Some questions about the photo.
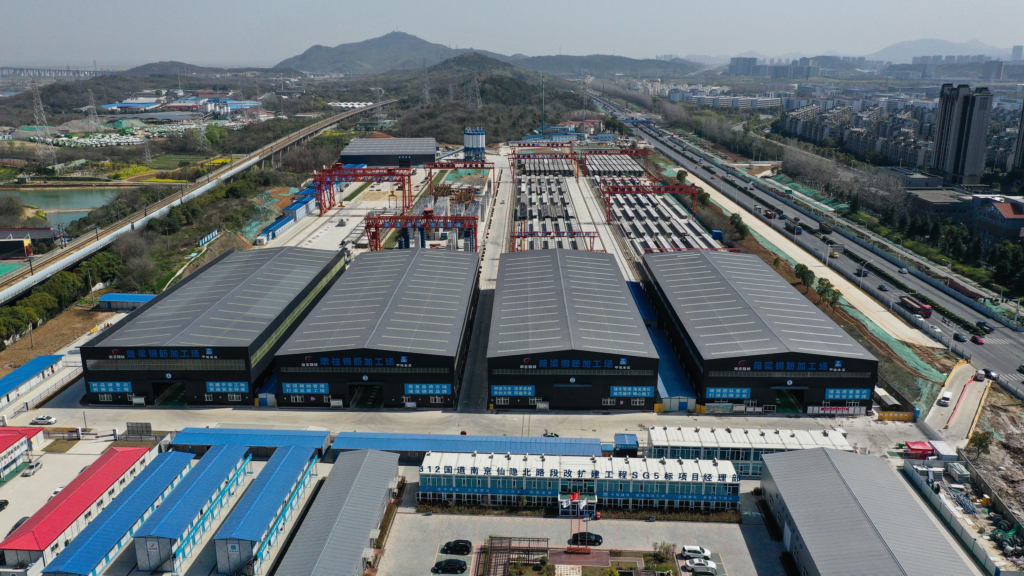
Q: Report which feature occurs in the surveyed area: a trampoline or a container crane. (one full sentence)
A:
I can see a container crane in this picture.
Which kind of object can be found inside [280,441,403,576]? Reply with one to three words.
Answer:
building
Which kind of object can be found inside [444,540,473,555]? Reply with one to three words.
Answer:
car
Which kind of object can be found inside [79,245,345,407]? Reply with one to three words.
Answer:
shed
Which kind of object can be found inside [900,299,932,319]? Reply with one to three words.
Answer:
vehicle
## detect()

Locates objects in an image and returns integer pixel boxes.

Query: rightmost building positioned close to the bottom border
[760,446,984,576]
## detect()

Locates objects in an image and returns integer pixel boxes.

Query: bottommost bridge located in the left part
[0,101,388,310]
